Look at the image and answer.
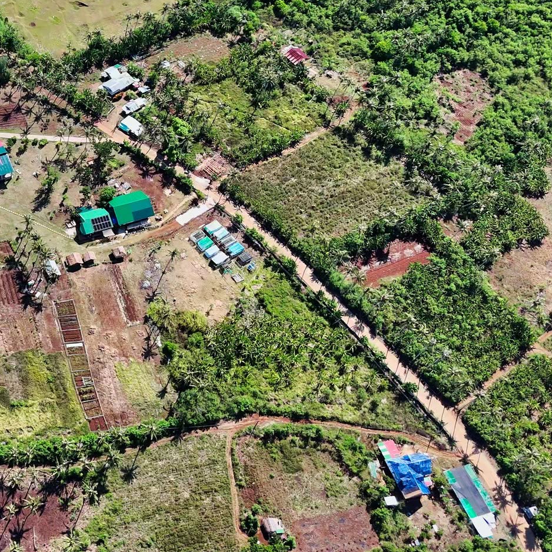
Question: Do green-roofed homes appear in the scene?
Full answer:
Yes, there's a green-roofed home down there.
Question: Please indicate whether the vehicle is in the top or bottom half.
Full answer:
The vehicle is in the bottom half of the image.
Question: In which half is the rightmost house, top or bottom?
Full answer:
The bottom half of the photo is where the rightmost house is.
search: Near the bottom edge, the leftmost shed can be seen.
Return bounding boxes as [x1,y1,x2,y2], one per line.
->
[261,519,285,541]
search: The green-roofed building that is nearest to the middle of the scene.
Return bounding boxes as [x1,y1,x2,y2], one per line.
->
[107,192,154,233]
